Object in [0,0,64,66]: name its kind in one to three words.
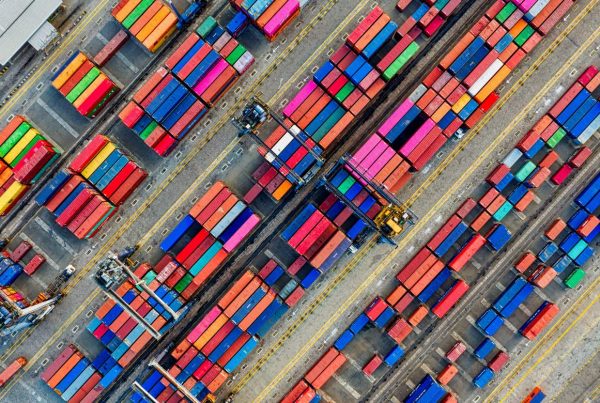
building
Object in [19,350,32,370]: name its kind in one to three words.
vehicle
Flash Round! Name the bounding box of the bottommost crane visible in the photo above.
[131,338,204,403]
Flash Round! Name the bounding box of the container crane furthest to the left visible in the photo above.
[0,280,64,340]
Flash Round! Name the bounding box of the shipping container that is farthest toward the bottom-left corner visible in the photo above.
[0,357,26,390]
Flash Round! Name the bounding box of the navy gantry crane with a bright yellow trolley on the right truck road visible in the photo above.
[317,152,418,247]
